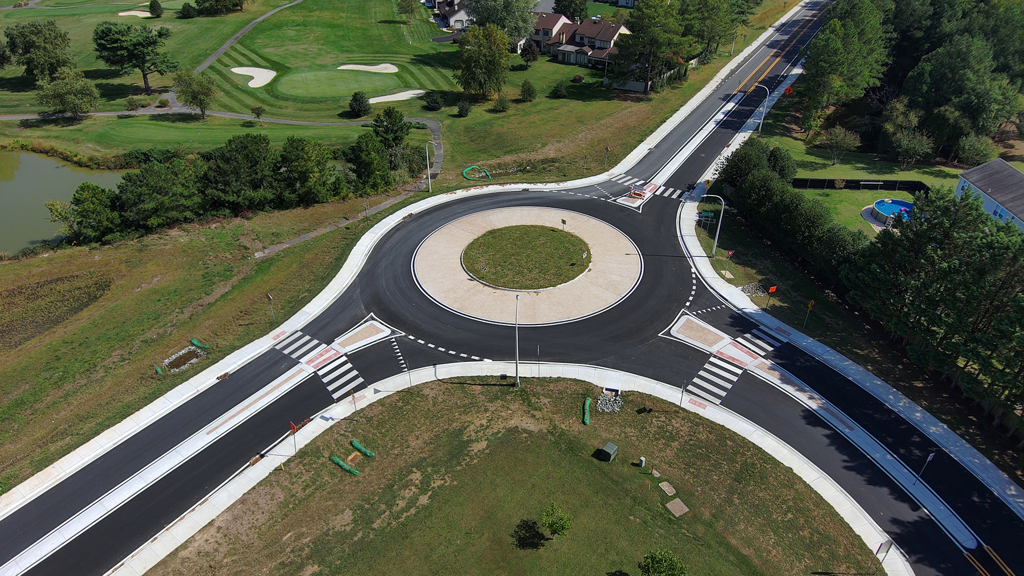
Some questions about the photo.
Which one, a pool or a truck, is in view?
pool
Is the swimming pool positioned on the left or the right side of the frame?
right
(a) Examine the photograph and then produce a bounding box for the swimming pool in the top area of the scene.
[871,197,932,229]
